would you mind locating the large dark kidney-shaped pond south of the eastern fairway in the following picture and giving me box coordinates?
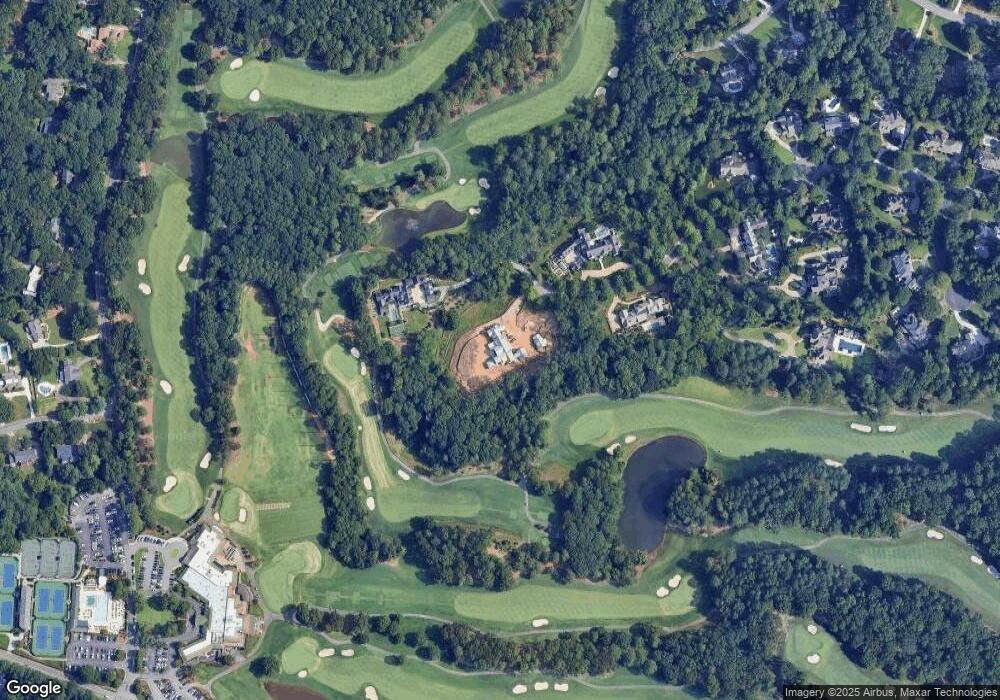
[620,434,707,552]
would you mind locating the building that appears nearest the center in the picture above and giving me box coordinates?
[484,324,527,371]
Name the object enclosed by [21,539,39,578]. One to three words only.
tennis court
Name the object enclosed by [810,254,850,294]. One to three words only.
house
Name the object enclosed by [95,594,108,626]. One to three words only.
swimming pool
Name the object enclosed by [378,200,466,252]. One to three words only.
pond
